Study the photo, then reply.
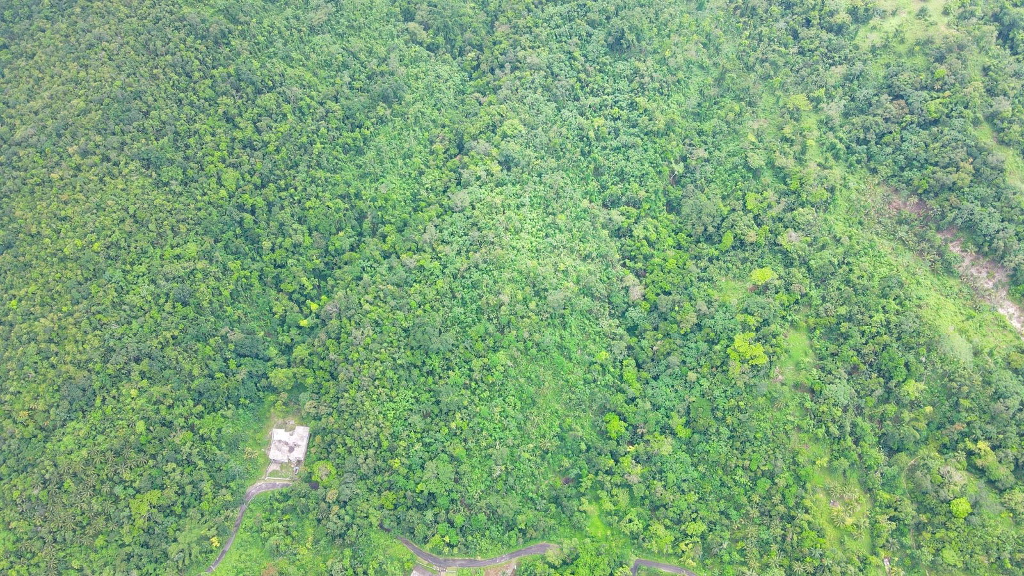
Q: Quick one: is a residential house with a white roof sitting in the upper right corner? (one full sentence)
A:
No, the scene shows no residential house with a white roof in the upper right corner.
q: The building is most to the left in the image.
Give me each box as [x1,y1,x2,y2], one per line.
[269,426,310,466]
